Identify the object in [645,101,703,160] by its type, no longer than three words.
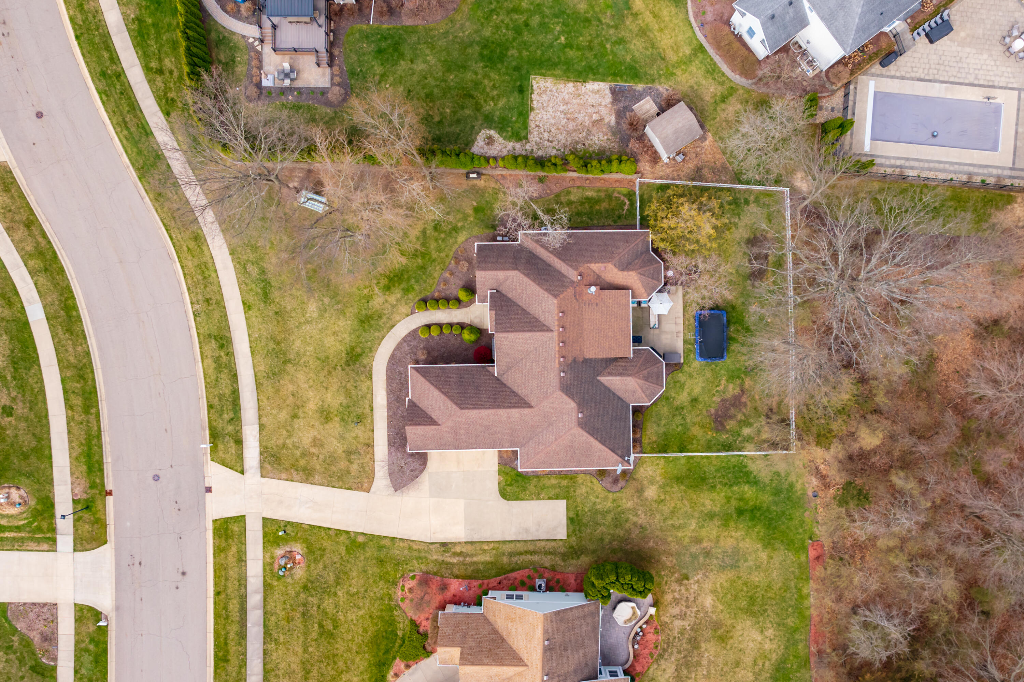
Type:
shed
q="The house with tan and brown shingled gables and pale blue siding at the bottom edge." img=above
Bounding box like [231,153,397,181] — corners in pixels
[437,590,631,682]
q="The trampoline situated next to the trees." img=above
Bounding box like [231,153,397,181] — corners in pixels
[694,310,729,361]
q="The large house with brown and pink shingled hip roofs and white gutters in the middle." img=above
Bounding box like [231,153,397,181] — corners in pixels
[405,229,666,471]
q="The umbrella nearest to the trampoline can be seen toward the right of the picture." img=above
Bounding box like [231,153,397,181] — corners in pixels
[649,292,673,314]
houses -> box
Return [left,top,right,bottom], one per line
[437,590,631,682]
[730,0,928,72]
[405,229,666,471]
